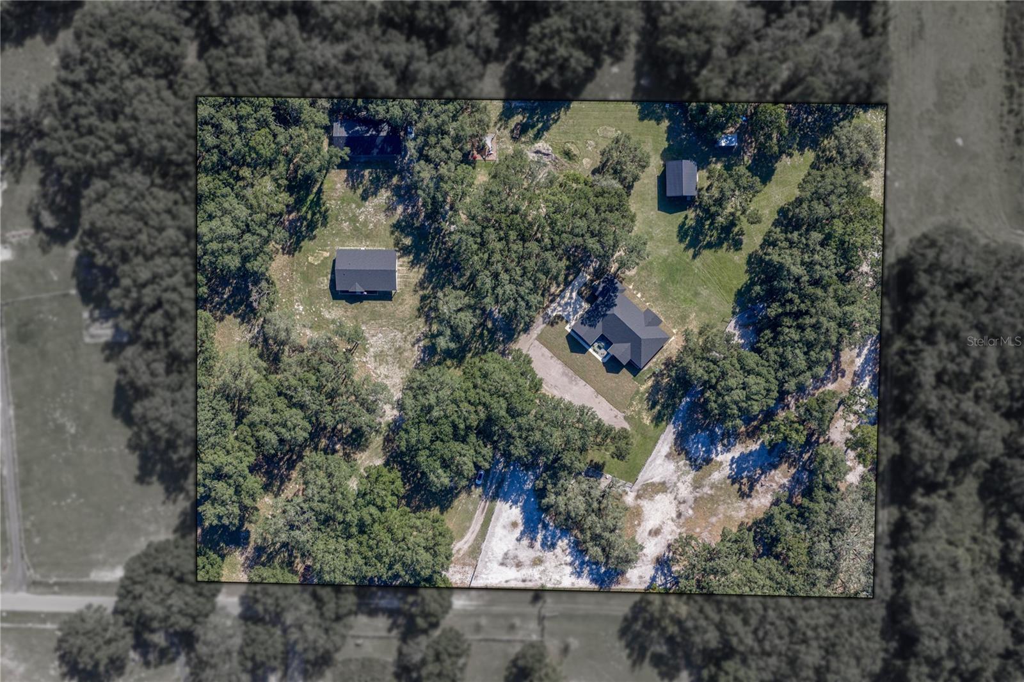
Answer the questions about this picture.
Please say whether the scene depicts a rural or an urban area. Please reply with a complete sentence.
The land in this view is best described as rural.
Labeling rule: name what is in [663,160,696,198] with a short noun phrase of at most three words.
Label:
shed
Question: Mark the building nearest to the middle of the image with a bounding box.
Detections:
[571,281,668,368]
